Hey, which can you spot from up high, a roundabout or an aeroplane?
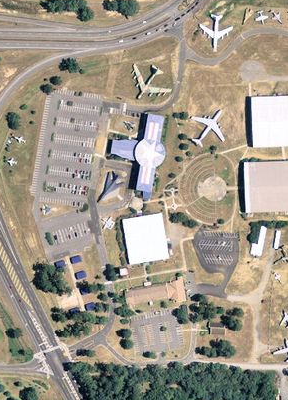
aeroplane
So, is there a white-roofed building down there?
Yes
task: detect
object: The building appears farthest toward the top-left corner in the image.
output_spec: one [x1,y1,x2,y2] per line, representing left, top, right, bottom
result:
[111,114,165,199]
